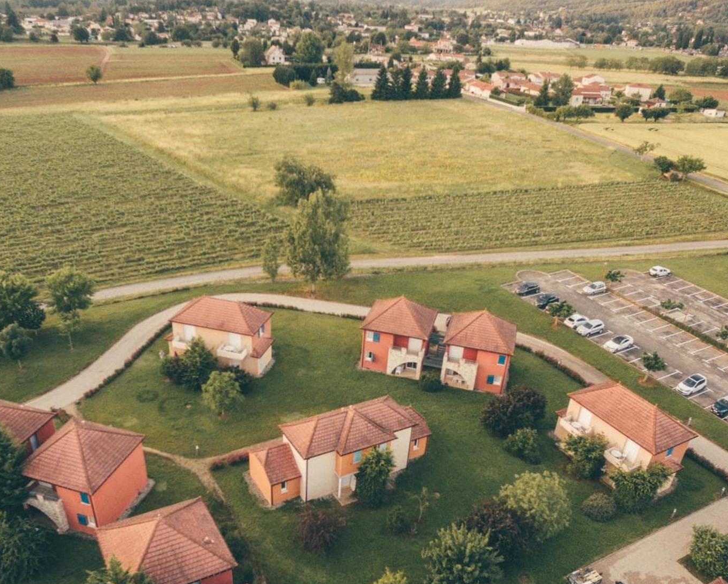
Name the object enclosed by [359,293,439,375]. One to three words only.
house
